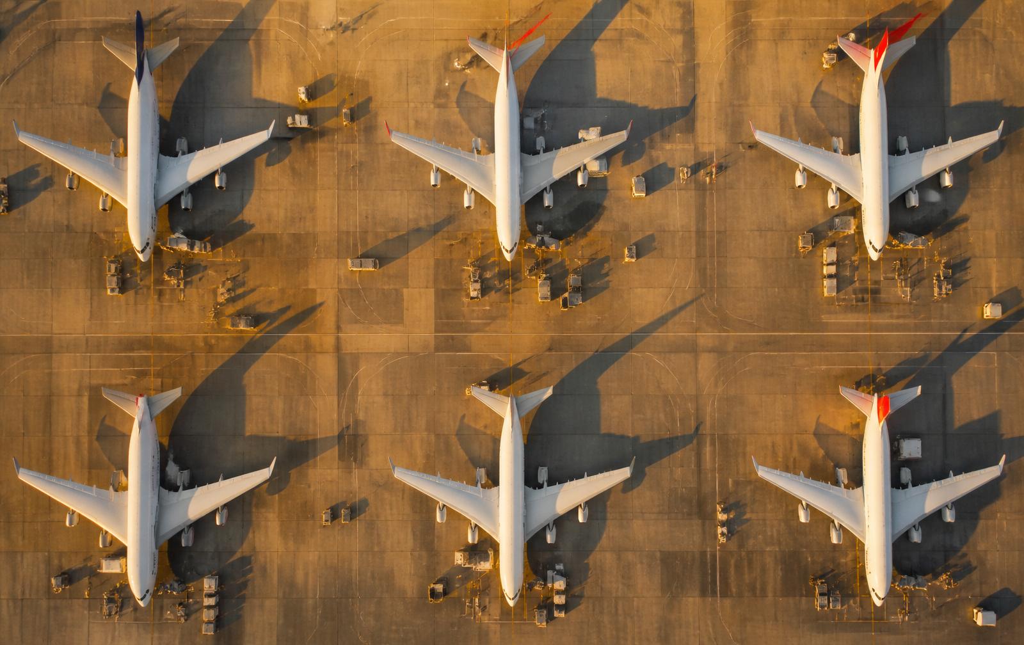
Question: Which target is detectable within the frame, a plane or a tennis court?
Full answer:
The one in the frame is a plane.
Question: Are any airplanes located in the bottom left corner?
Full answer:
Yes, you'll find an airplane in the bottom left corner.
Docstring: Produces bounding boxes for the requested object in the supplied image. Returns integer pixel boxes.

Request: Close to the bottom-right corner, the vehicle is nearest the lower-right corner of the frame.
[970,607,997,626]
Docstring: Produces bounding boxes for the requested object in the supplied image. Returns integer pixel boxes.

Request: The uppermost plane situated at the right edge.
[749,25,1004,260]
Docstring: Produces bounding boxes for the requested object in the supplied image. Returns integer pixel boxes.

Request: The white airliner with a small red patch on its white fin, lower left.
[9,387,273,606]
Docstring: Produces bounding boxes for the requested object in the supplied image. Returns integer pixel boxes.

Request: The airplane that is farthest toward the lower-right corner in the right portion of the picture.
[751,387,1006,606]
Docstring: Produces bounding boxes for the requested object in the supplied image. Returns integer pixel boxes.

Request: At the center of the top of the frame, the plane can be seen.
[383,24,631,261]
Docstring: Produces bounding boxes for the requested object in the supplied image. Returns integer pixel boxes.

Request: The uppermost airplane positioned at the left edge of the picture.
[12,11,275,261]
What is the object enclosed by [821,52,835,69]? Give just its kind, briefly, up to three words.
work vehicle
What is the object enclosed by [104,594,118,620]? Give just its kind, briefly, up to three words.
work vehicle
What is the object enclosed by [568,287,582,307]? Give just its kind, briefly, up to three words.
vehicle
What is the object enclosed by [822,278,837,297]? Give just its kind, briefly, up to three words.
vehicle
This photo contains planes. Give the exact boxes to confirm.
[9,387,273,606]
[383,24,631,261]
[12,11,275,261]
[388,388,635,606]
[749,25,1004,260]
[751,387,1006,606]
